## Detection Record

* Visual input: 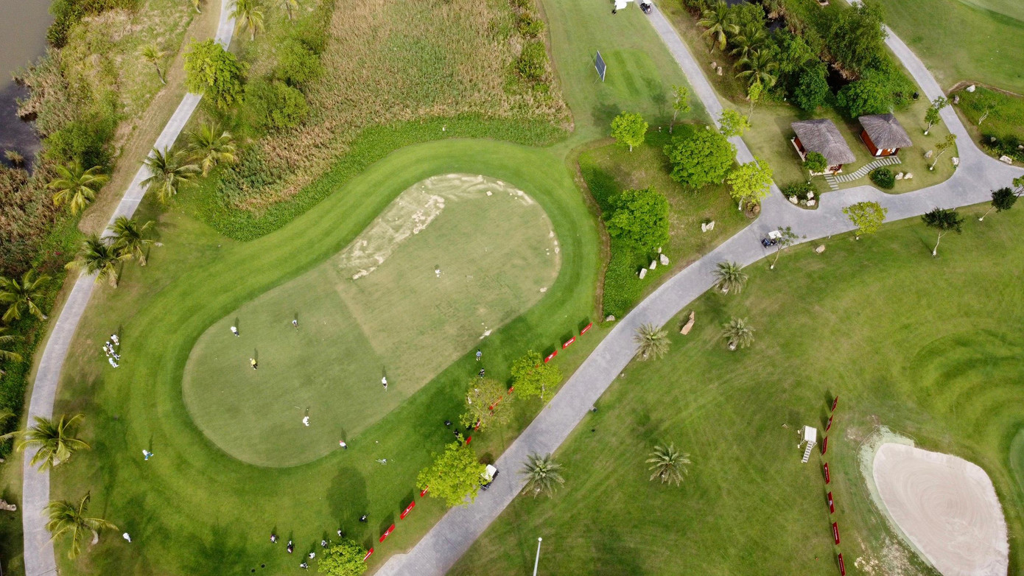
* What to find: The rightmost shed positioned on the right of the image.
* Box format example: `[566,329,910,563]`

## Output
[856,113,913,160]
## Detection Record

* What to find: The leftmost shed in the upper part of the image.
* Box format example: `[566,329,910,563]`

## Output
[786,119,856,178]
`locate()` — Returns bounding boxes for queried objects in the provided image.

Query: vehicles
[476,466,500,497]
[641,0,654,15]
[760,228,785,252]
